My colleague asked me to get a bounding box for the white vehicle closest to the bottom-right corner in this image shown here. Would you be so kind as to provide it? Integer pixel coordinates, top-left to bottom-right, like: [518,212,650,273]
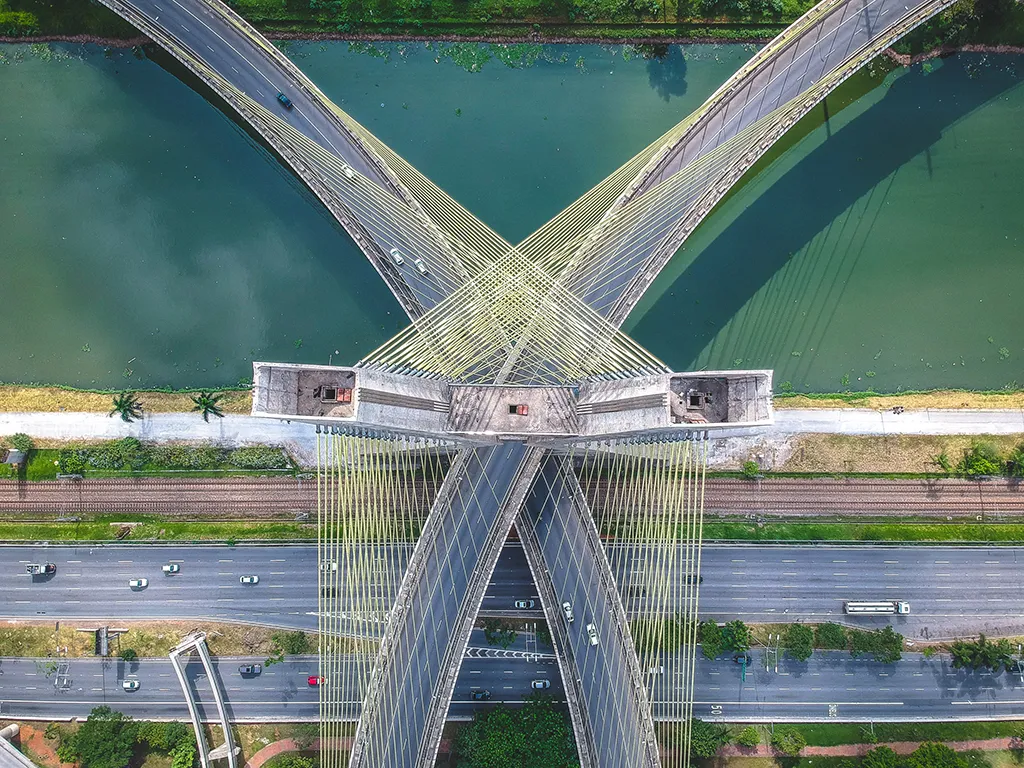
[841,600,910,614]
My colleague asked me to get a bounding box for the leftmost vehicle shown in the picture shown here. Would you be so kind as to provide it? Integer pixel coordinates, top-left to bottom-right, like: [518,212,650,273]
[25,563,57,575]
